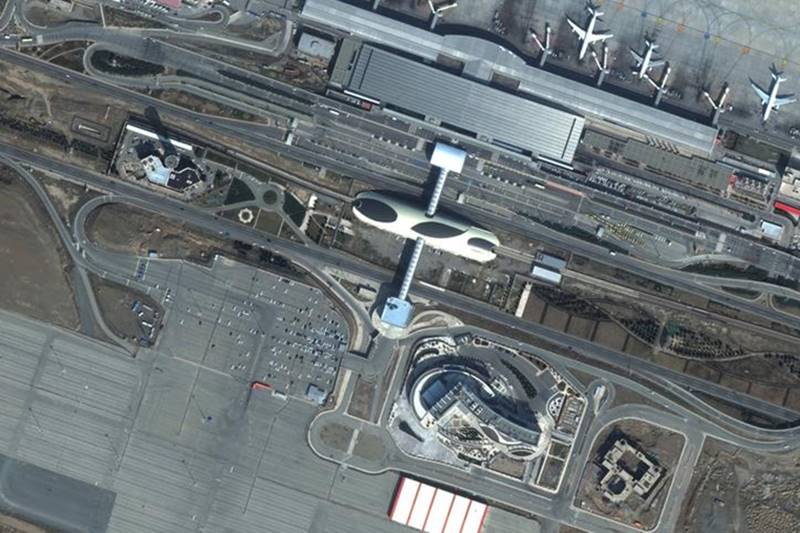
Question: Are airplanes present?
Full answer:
Yes, looking at the shot, I can spot an airplane.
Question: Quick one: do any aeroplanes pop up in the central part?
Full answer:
No, there's no aeroplane to be seen in the central part.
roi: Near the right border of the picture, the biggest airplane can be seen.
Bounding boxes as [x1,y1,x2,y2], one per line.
[752,70,798,120]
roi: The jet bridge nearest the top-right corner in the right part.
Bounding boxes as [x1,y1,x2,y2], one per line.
[703,87,730,126]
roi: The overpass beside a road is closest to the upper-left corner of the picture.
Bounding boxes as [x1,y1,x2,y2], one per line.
[195,80,317,126]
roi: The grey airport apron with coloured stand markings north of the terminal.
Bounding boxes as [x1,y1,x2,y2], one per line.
[340,0,800,168]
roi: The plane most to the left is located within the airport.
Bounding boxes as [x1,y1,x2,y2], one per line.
[568,7,615,59]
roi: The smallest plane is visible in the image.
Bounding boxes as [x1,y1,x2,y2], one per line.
[631,38,666,77]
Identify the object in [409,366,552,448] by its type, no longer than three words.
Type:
building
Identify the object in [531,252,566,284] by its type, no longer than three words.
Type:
building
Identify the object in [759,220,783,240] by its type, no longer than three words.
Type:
shed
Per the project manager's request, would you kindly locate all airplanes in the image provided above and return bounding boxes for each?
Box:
[752,70,798,120]
[568,7,615,59]
[631,38,666,77]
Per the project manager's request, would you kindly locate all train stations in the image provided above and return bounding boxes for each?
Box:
[352,192,501,263]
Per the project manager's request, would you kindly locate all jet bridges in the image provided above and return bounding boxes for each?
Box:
[703,87,730,126]
[530,24,552,67]
[643,67,672,106]
[372,0,379,12]
[591,47,609,88]
[429,0,459,30]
